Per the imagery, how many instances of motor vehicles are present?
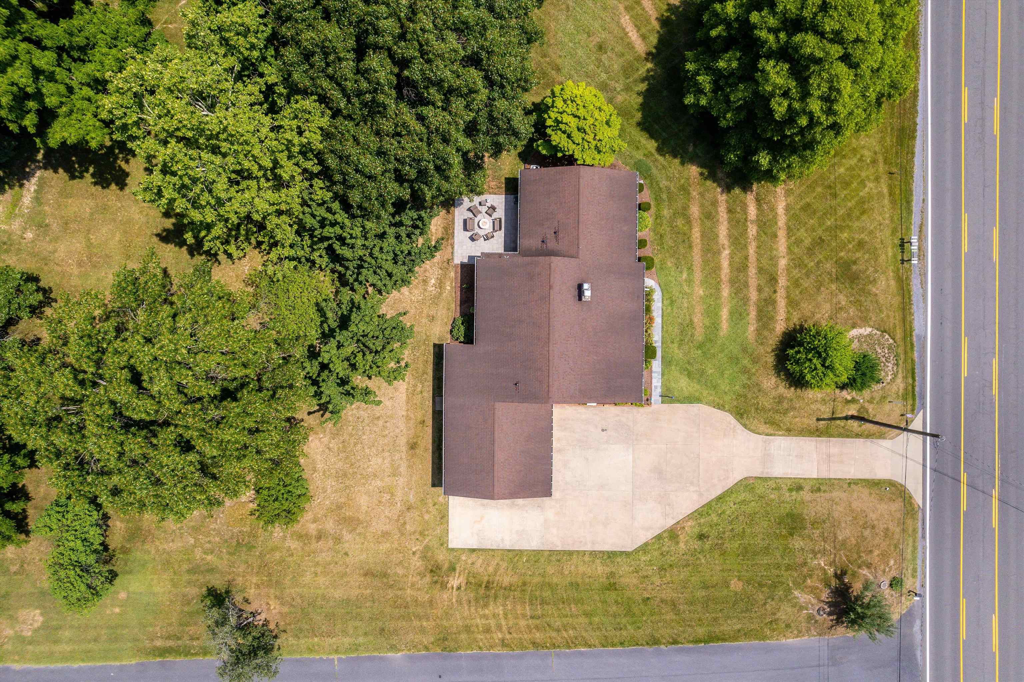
zero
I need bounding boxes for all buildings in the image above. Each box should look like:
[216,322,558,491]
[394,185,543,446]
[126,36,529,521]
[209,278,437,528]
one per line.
[442,164,649,500]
